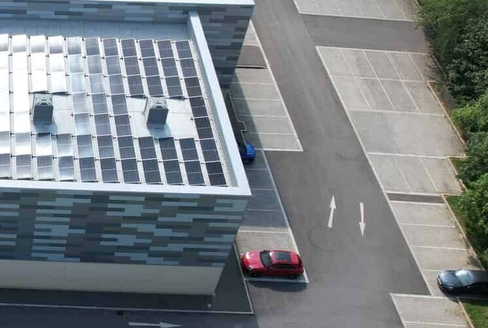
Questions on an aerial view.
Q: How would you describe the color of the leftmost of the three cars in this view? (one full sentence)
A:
The leftmost of the three cars looks blue in the image.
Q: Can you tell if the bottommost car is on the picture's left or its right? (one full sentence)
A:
The bottommost car sits on the right side.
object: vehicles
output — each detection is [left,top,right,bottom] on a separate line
[238,143,259,163]
[240,250,308,279]
[444,267,488,296]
